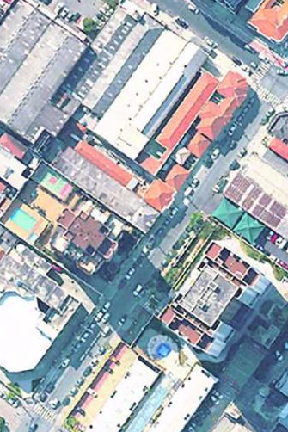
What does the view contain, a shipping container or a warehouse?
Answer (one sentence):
There is a warehouse in the scene.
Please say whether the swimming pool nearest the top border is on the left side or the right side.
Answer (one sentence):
It is on the left.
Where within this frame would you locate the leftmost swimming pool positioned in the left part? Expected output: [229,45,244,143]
[10,206,38,232]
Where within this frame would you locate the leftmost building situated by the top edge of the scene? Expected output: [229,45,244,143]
[0,0,99,136]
